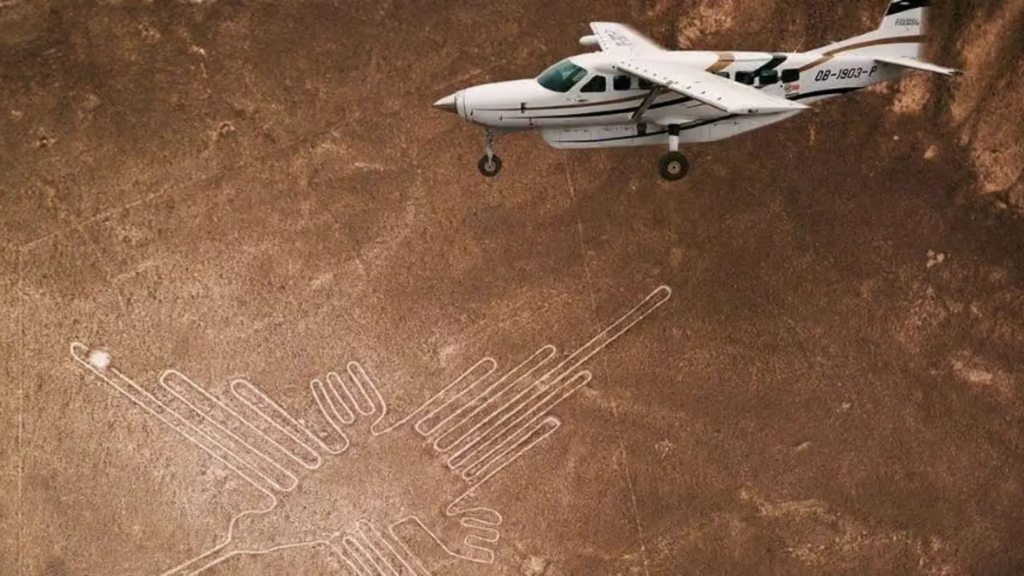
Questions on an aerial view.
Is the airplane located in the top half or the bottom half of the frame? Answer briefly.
top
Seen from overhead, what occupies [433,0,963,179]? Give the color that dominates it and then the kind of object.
white airplane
